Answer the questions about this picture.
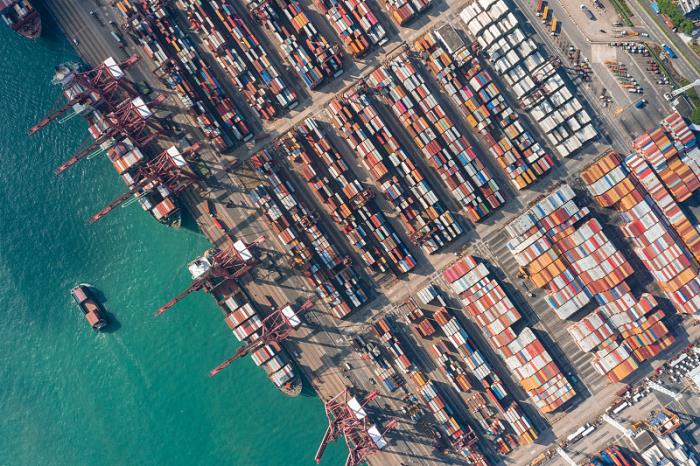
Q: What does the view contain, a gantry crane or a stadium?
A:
gantry crane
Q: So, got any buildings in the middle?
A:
No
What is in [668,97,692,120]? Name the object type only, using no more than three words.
building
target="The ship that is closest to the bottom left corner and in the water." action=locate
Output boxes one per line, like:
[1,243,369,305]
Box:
[71,287,106,331]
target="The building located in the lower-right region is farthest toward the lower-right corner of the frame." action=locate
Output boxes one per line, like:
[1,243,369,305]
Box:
[629,428,654,450]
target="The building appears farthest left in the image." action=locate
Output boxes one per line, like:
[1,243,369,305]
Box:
[433,23,463,57]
